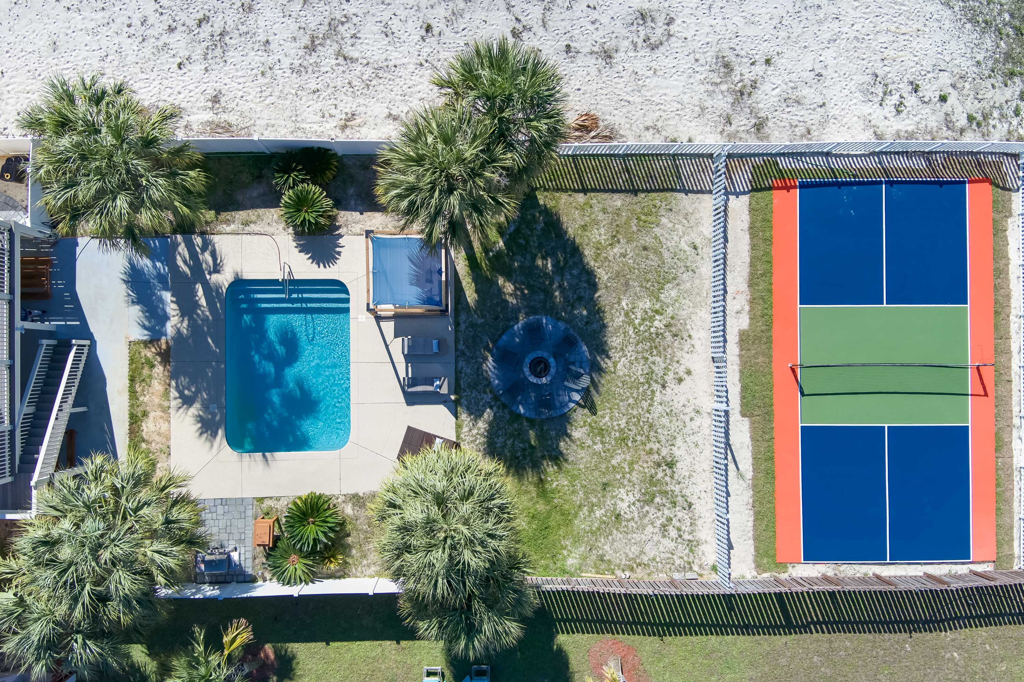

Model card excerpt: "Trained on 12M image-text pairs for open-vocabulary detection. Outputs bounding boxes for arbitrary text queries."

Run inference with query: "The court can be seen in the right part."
[772,177,998,564]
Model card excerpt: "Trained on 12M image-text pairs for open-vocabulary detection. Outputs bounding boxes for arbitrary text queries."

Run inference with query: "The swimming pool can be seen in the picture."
[226,279,350,453]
